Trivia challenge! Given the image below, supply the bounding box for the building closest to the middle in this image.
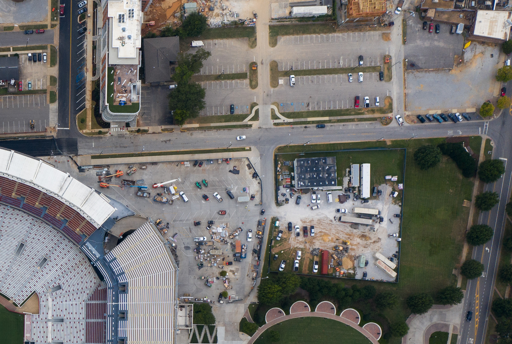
[292,156,337,190]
